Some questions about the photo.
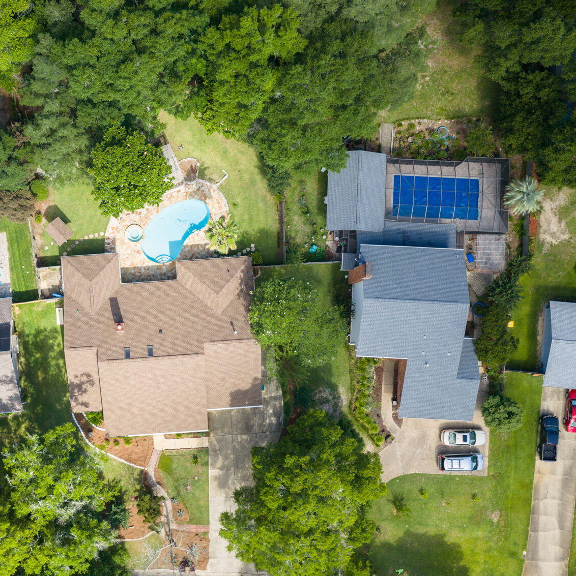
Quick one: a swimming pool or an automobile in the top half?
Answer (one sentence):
The feature located in the top half is a swimming pool.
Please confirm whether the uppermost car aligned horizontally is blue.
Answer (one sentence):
No, the uppermost car aligned horizontally is actually white.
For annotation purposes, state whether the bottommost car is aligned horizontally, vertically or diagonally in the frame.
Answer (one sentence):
The bottommost car is laid out horizontally.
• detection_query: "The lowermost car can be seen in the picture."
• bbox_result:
[436,453,483,474]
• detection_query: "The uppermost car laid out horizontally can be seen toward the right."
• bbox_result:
[439,427,485,449]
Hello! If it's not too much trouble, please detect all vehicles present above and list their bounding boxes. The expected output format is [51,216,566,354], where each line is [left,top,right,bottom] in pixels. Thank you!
[562,390,576,434]
[439,427,485,449]
[436,453,483,474]
[537,413,564,464]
